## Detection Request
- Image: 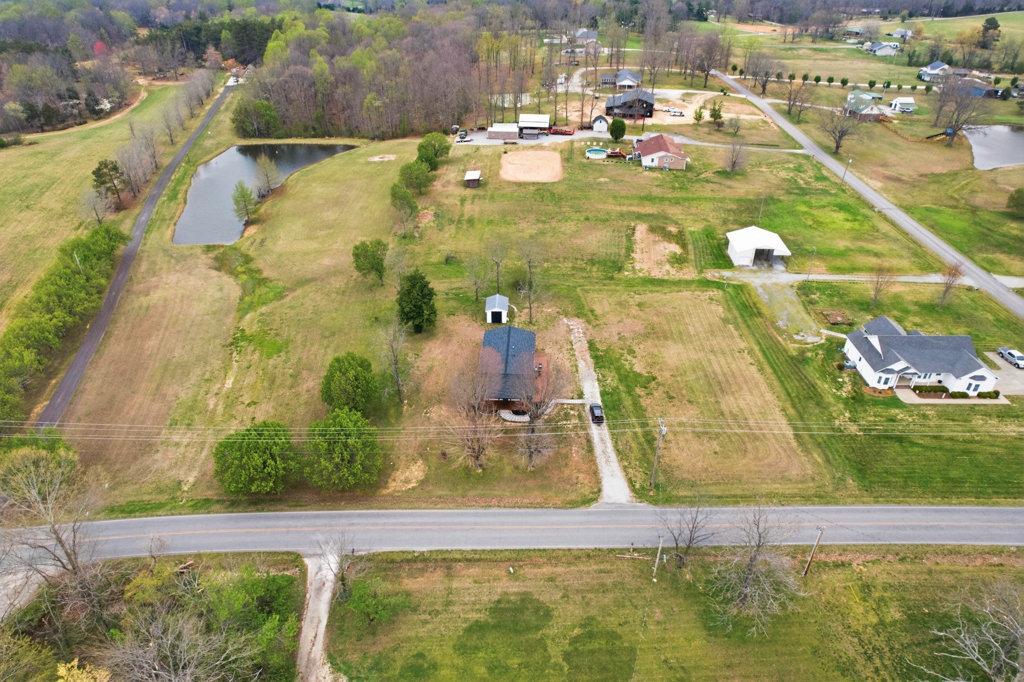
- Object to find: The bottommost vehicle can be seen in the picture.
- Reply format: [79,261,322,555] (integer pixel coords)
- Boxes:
[587,399,607,421]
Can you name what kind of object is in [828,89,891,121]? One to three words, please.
house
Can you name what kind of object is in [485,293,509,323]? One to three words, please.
shed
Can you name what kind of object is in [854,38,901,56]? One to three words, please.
house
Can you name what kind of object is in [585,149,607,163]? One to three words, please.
swimming pool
